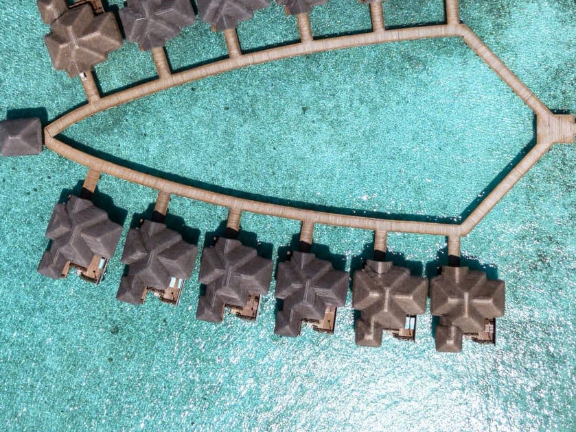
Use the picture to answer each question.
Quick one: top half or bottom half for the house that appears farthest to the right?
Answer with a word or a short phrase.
bottom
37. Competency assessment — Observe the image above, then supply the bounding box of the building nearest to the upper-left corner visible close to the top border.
[33,0,123,80]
